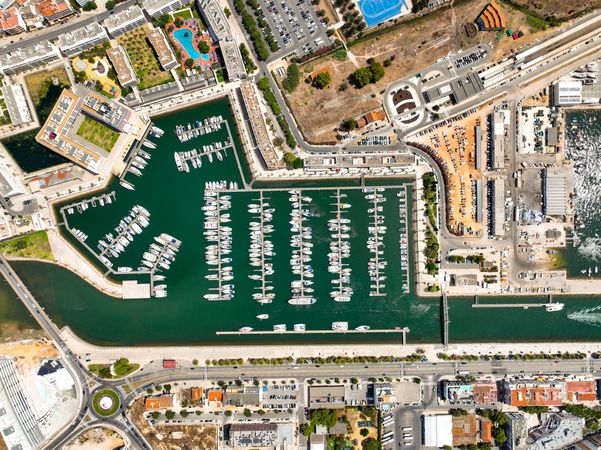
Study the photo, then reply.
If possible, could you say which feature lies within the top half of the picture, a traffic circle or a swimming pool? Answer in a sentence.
It is a swimming pool that can be seen within the top half of the picture.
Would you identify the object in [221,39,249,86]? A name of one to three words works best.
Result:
building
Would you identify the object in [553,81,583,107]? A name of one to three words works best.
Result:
building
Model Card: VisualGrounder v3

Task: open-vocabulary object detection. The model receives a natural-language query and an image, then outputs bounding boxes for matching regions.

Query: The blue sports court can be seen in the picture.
[357,0,410,28]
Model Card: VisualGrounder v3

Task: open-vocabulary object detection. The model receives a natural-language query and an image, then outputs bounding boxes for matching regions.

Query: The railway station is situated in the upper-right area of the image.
[483,18,601,91]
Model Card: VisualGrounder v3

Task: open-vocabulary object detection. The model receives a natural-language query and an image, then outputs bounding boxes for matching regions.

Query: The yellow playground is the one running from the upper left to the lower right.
[72,57,121,97]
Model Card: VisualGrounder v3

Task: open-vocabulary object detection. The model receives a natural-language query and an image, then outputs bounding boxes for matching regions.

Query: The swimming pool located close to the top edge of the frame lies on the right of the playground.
[166,17,220,70]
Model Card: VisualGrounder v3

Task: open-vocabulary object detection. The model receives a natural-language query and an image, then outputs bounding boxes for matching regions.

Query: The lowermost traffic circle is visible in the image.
[86,383,126,422]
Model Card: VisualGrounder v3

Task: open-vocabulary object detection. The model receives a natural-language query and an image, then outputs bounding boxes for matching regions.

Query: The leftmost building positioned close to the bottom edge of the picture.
[0,340,53,450]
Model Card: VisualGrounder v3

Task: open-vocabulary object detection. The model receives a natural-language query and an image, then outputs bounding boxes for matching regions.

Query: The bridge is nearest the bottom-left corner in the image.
[0,251,70,349]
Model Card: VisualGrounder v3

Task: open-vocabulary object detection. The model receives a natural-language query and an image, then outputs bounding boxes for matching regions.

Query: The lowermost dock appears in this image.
[216,328,410,343]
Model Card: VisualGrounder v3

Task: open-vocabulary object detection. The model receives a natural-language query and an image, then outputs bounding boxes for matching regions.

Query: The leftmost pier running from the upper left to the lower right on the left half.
[60,191,154,297]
